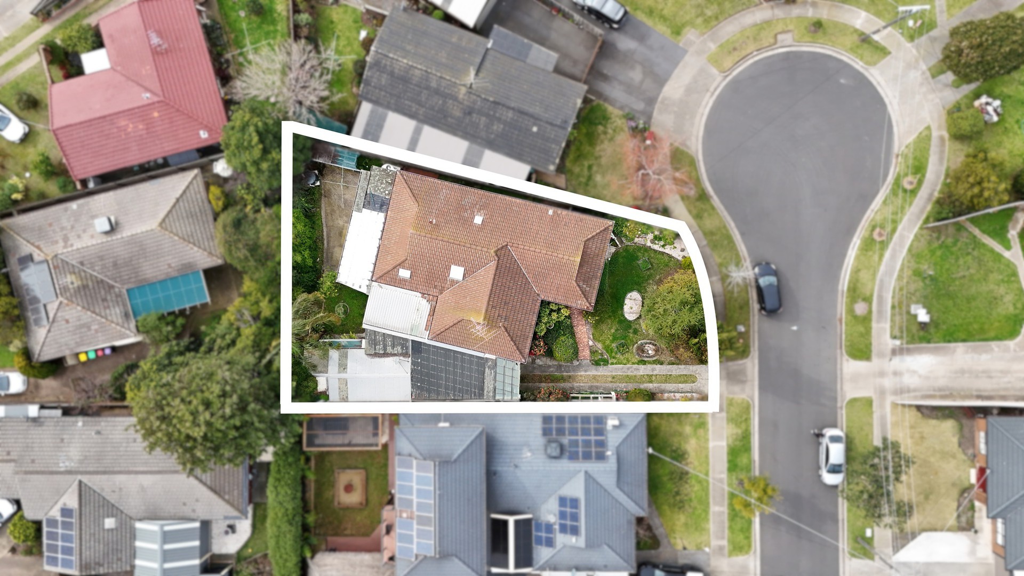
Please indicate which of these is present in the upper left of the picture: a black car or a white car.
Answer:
white car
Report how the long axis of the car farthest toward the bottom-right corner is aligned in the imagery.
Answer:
vertically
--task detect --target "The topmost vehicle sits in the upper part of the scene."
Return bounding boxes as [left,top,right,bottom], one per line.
[571,0,631,30]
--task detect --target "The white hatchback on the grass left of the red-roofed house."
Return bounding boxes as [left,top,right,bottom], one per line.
[0,103,27,140]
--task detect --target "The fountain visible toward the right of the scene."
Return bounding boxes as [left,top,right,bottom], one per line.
[634,340,661,360]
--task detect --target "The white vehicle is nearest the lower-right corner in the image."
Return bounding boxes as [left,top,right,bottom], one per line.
[820,429,850,487]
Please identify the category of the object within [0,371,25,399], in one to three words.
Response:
car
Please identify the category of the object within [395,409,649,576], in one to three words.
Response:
house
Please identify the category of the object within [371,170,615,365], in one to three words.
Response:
house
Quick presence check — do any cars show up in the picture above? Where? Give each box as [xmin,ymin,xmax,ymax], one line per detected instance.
[0,499,16,524]
[752,261,783,315]
[820,429,850,487]
[0,371,25,399]
[0,103,27,140]
[571,0,631,30]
